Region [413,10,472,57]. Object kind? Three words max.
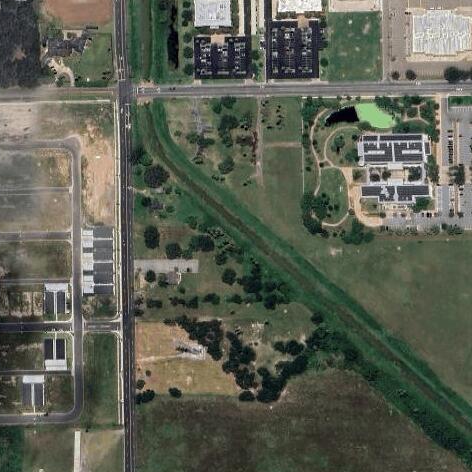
building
